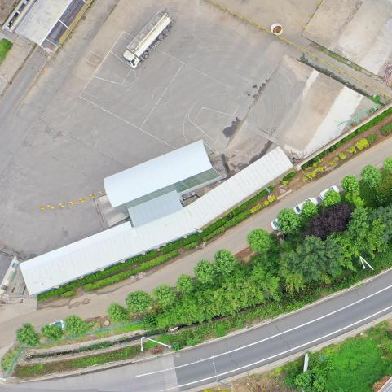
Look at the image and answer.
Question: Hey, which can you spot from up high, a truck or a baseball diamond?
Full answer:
Of the two, only a truck appears.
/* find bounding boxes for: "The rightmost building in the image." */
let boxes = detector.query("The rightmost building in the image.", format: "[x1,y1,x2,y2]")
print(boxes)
[185,147,296,230]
